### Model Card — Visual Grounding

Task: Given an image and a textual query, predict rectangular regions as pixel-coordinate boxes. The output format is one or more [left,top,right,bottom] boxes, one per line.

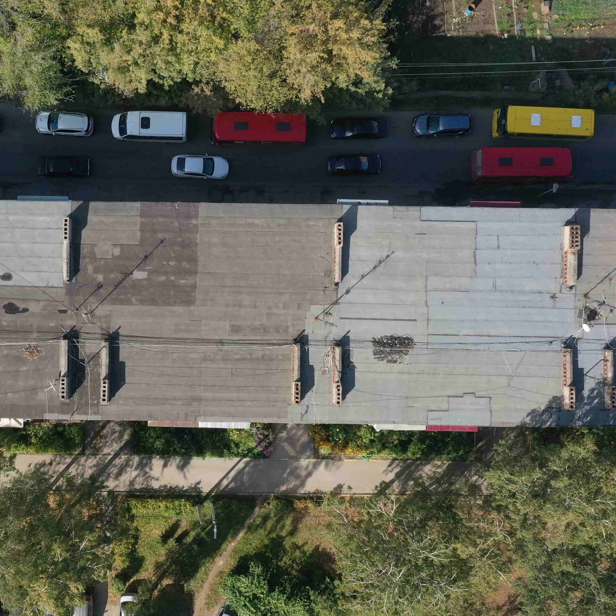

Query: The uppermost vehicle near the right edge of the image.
[491,105,598,142]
